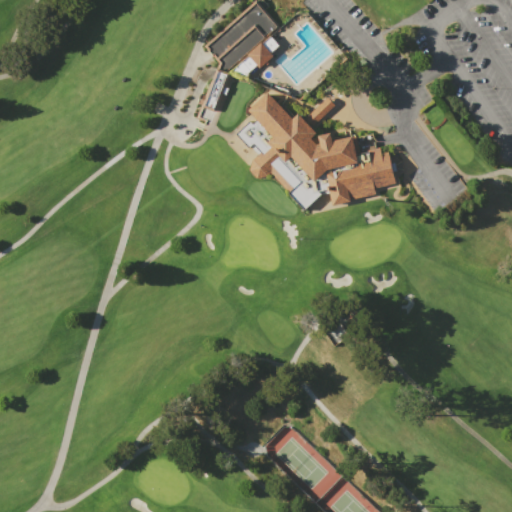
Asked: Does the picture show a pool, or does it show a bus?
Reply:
pool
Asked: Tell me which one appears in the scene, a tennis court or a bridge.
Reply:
tennis court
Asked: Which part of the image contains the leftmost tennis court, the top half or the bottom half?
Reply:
bottom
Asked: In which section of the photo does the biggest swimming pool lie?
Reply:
top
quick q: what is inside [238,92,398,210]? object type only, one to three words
building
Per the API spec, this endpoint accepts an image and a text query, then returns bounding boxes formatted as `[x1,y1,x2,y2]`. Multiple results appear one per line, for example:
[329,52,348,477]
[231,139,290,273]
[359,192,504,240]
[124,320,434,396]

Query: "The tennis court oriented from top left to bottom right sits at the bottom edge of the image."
[264,424,341,502]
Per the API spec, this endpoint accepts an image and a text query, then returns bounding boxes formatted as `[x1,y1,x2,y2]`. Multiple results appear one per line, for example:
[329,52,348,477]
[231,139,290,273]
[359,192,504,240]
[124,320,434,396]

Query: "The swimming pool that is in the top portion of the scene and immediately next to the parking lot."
[259,14,340,96]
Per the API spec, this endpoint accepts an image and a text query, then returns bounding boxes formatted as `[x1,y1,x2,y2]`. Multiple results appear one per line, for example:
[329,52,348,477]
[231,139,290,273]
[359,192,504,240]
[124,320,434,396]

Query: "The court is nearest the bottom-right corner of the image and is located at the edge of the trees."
[318,478,376,512]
